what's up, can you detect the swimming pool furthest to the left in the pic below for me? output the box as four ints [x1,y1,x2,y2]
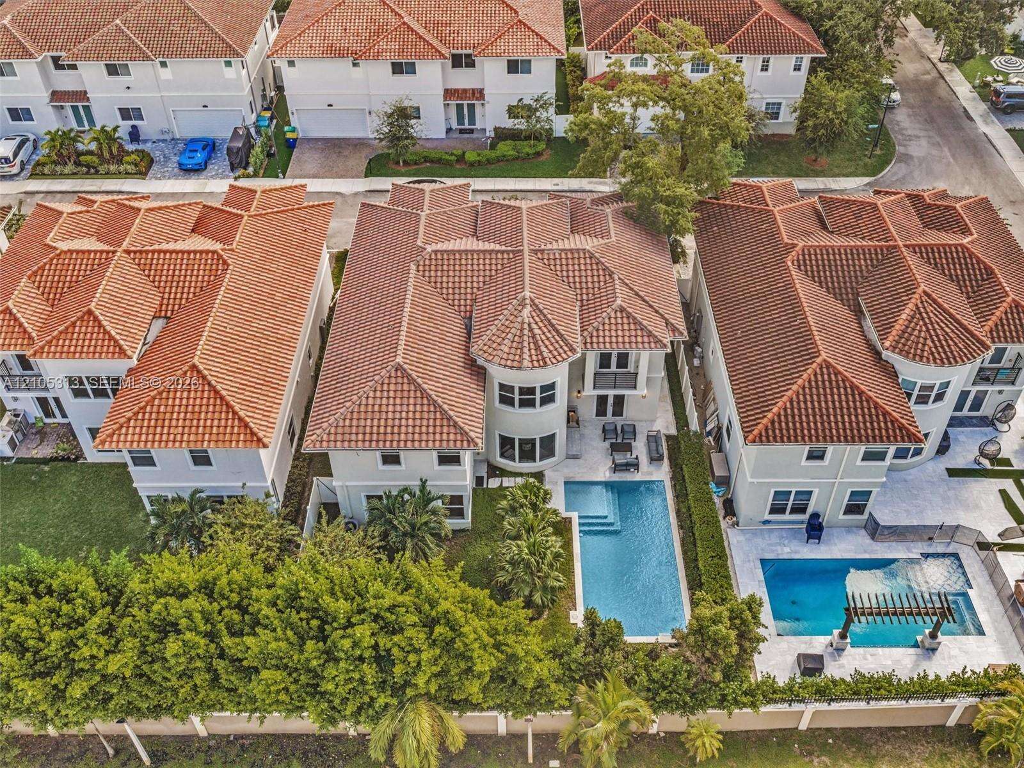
[565,478,688,634]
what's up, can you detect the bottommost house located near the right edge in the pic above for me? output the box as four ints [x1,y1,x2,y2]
[681,178,1024,528]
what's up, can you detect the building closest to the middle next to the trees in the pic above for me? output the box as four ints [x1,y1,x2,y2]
[302,179,691,529]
